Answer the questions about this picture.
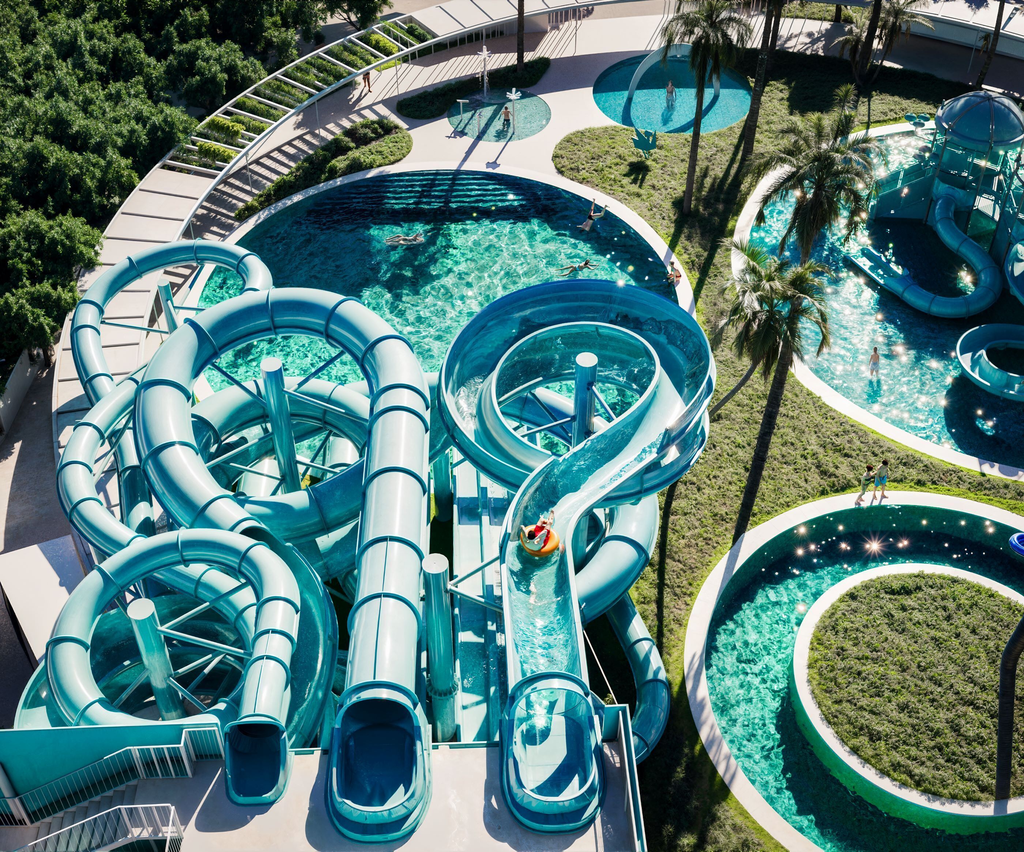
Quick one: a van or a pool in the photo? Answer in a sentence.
It is a pool that can be seen here.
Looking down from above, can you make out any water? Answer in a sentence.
Yes, there is water in the image.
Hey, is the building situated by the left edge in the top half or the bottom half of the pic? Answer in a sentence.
It is in the bottom half that the building situated by the left edge appears.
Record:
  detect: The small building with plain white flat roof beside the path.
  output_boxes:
[0,535,83,646]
